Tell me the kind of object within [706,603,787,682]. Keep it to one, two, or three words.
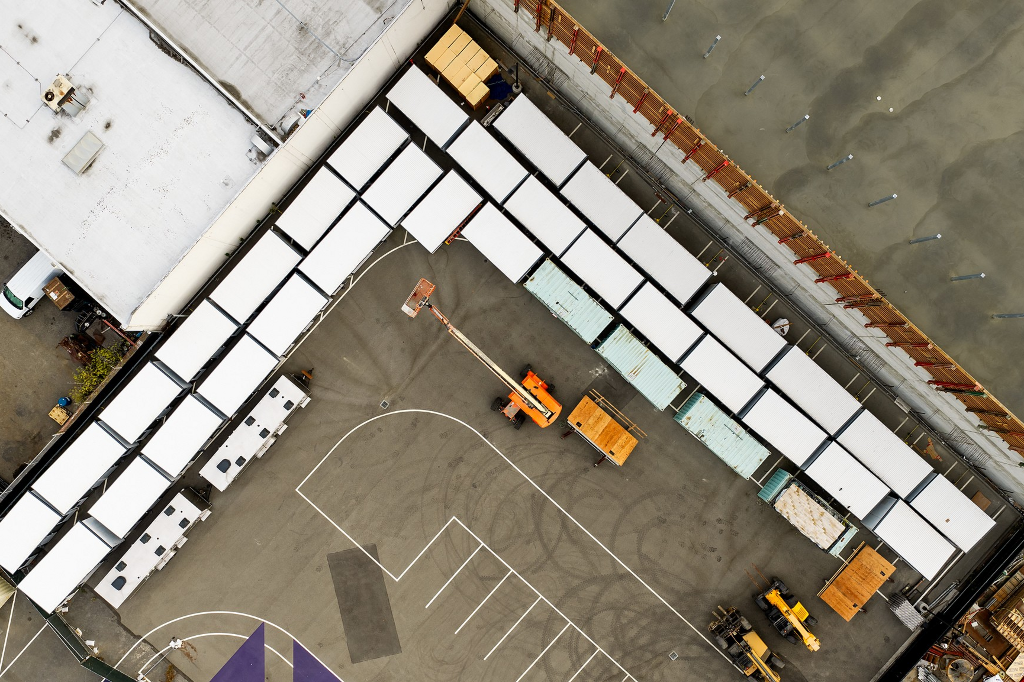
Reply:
work vehicle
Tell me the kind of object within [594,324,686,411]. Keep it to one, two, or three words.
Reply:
shipping container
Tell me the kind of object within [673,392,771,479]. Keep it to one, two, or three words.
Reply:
shipping container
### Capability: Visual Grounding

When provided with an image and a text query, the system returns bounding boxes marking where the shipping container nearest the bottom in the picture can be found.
[756,467,859,557]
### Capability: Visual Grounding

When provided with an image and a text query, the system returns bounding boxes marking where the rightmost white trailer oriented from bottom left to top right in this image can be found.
[199,365,316,492]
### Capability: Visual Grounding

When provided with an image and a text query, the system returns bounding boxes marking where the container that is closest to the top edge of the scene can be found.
[523,258,613,343]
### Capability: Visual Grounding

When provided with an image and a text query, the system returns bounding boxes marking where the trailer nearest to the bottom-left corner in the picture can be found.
[96,483,214,609]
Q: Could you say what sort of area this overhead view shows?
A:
industrial area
